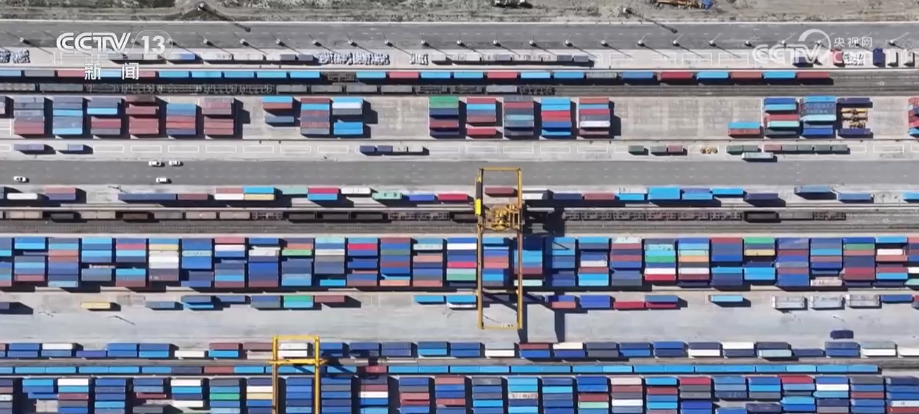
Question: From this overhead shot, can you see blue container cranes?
No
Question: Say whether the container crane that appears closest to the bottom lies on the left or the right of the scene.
left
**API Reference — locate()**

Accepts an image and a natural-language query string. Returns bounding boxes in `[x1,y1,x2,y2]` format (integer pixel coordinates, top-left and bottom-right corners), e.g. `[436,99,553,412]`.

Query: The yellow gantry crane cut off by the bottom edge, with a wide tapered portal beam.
[266,335,329,414]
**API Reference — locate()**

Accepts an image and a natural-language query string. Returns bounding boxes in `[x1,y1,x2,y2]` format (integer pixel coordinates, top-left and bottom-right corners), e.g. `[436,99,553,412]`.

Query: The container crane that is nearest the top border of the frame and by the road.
[473,167,524,330]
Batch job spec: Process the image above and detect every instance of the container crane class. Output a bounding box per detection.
[266,335,329,414]
[473,167,524,330]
